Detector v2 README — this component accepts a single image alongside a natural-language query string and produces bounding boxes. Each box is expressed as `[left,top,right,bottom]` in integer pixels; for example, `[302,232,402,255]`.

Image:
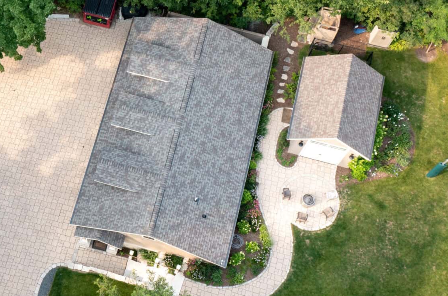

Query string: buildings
[69,17,275,269]
[284,53,386,170]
